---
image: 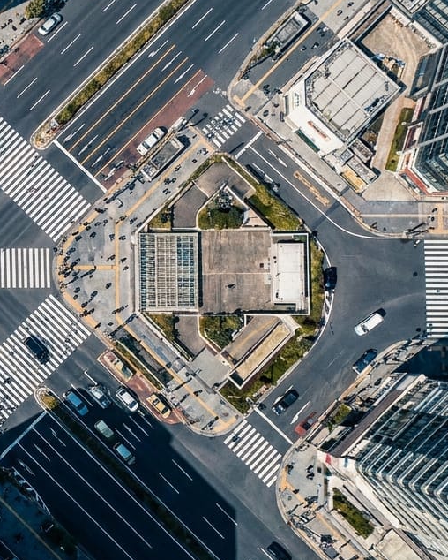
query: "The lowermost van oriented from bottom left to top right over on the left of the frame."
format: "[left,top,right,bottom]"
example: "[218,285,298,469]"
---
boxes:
[135,125,168,158]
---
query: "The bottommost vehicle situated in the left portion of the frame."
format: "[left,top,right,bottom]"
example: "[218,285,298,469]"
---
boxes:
[111,440,136,466]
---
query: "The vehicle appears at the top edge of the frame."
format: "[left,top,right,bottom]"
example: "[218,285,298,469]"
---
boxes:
[36,11,64,40]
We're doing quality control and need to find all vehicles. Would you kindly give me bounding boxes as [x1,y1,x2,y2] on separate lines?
[143,392,171,420]
[21,333,52,365]
[270,387,299,414]
[324,266,337,291]
[263,537,294,560]
[135,125,168,158]
[293,411,318,437]
[60,388,90,419]
[352,307,388,337]
[114,383,140,413]
[91,418,115,443]
[416,240,424,248]
[111,440,136,466]
[102,349,133,381]
[36,11,64,40]
[85,380,113,409]
[350,348,378,375]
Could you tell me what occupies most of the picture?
paved ground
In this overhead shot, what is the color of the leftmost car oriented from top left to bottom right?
black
